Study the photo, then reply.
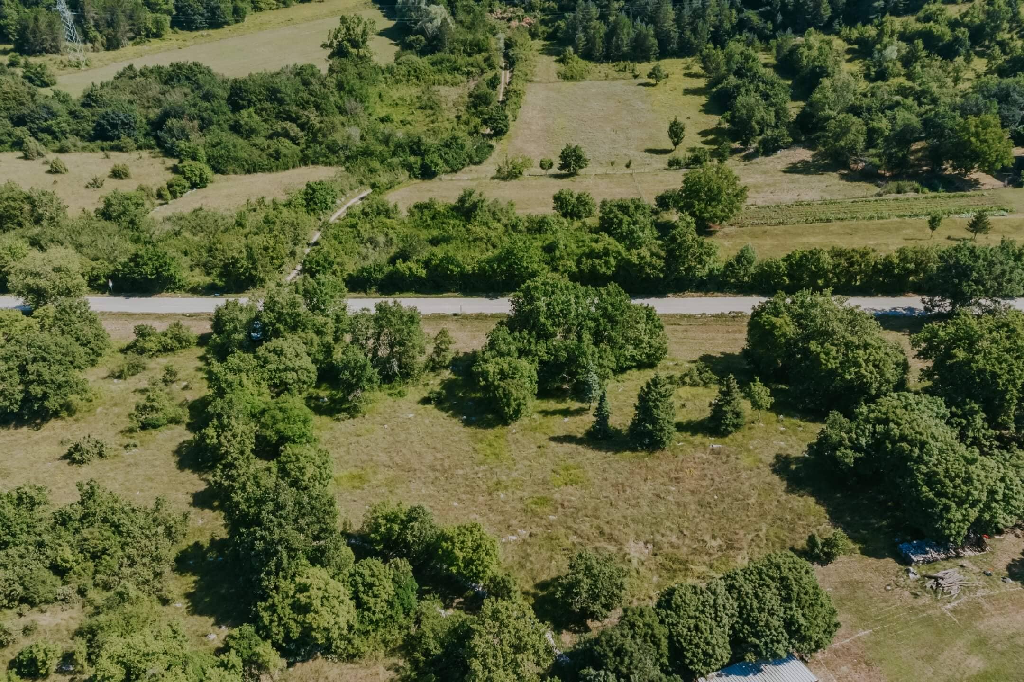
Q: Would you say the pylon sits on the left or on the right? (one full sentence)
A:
The pylon is on the left side of the image.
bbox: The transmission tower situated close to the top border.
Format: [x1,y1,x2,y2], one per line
[40,0,84,63]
